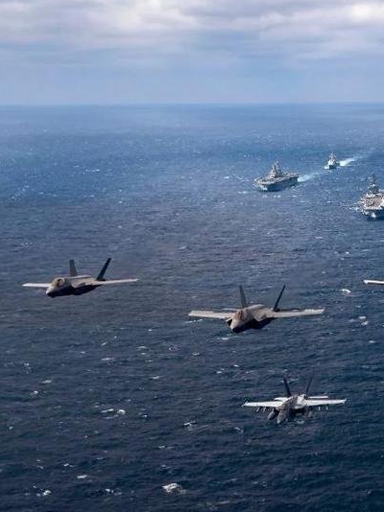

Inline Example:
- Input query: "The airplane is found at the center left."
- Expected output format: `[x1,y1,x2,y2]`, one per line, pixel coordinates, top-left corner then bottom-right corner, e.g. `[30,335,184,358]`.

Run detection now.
[23,256,145,300]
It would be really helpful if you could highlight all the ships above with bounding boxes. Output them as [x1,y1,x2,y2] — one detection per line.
[361,178,384,220]
[257,163,298,191]
[328,152,342,168]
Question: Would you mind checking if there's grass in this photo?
No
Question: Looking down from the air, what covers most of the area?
water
